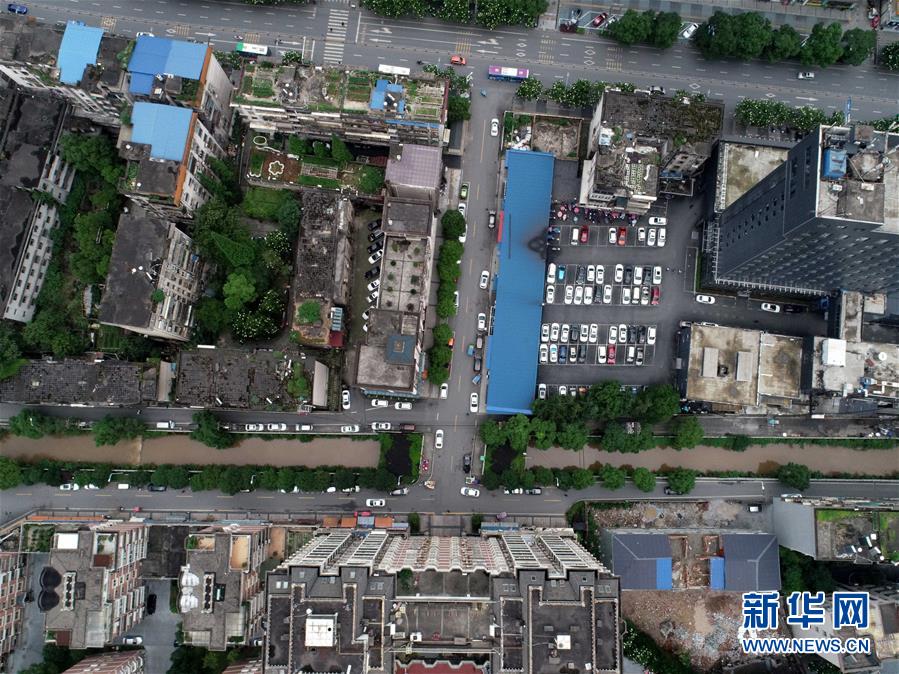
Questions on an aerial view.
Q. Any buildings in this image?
Yes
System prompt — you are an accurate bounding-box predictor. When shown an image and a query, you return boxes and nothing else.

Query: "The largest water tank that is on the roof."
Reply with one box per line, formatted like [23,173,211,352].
[819,149,847,183]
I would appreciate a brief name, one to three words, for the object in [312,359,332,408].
shed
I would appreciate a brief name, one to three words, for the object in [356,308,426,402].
building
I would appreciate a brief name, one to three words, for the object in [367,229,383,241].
vehicle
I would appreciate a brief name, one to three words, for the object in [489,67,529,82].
vehicle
